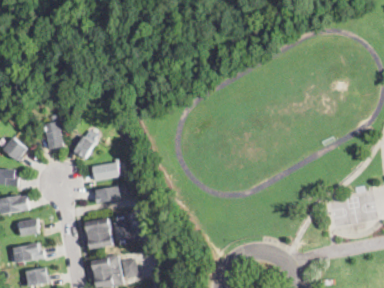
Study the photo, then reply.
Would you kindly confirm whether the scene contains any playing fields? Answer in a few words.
Yes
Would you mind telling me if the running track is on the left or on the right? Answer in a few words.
right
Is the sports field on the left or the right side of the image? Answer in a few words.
right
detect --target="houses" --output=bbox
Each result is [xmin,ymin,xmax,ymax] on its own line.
[90,251,128,288]
[24,264,52,287]
[92,161,120,182]
[16,217,41,236]
[0,166,21,187]
[0,193,32,214]
[12,242,48,262]
[96,184,123,204]
[3,136,30,162]
[47,122,65,150]
[84,217,116,250]
[74,127,102,159]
